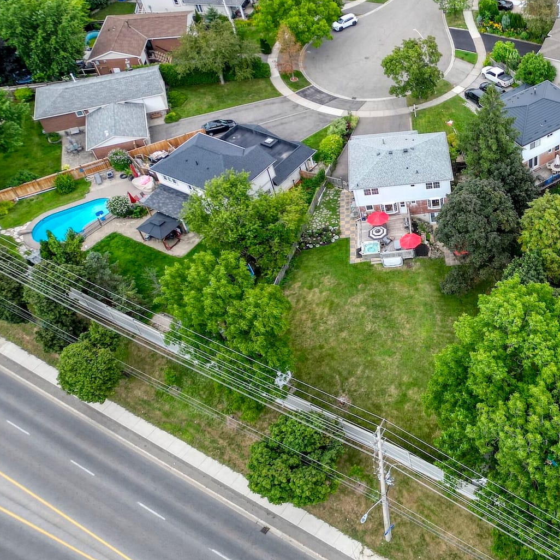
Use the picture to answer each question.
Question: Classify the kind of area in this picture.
residential area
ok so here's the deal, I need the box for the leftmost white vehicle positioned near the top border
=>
[333,12,358,31]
